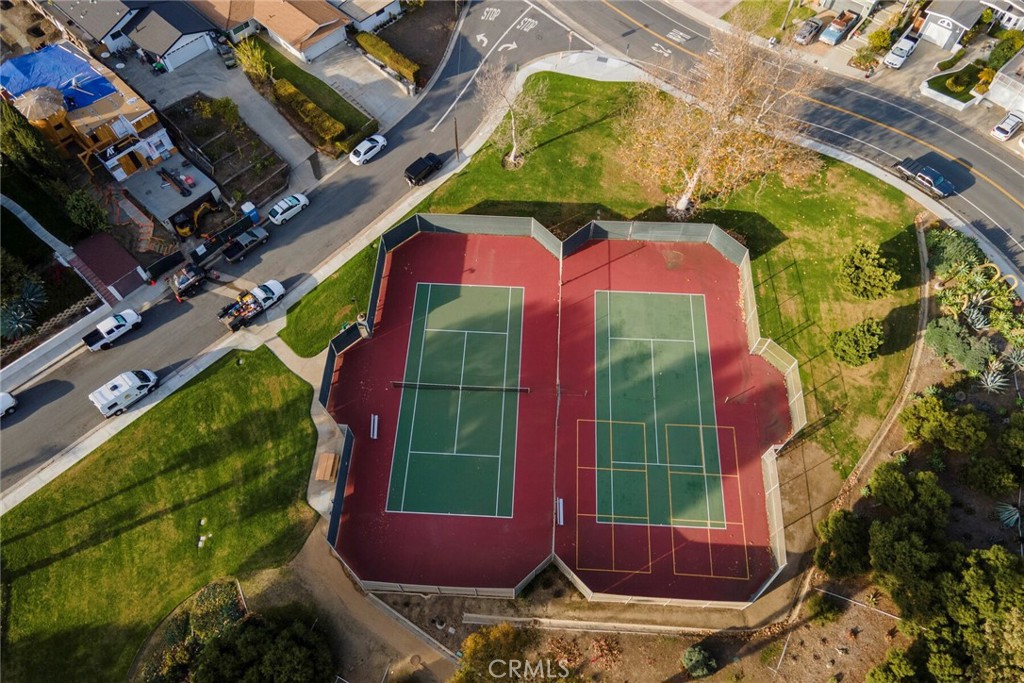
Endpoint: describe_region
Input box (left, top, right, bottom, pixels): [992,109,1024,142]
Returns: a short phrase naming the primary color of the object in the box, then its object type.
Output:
white car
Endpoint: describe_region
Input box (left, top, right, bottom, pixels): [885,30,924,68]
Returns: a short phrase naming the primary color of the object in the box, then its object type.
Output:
white truck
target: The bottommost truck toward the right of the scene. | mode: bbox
[898,155,960,199]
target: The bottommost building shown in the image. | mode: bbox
[74,233,151,299]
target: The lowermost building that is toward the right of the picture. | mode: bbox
[990,47,1024,111]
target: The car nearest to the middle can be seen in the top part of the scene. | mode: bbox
[405,155,441,185]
